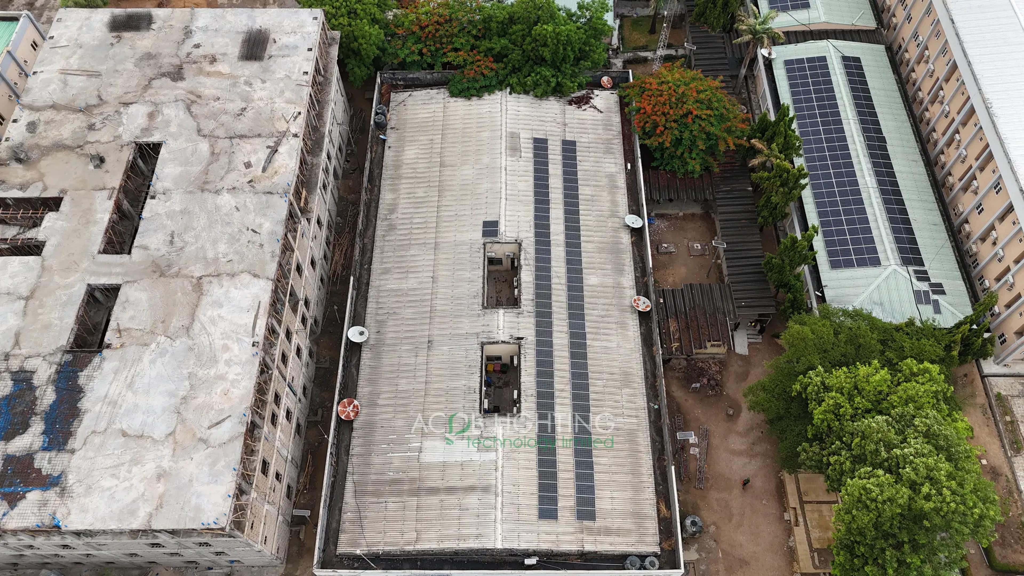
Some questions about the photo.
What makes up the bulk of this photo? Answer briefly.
buildings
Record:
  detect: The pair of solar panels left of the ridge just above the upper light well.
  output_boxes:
[482,220,499,239]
